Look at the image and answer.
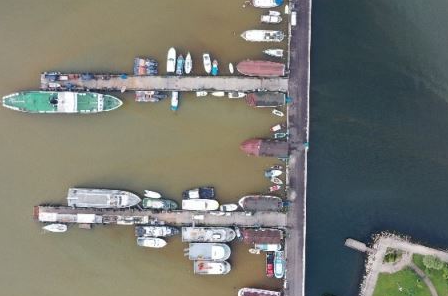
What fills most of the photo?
water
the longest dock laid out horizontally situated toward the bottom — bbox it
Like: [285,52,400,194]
[41,205,287,227]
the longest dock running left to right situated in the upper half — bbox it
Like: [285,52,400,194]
[40,73,289,92]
